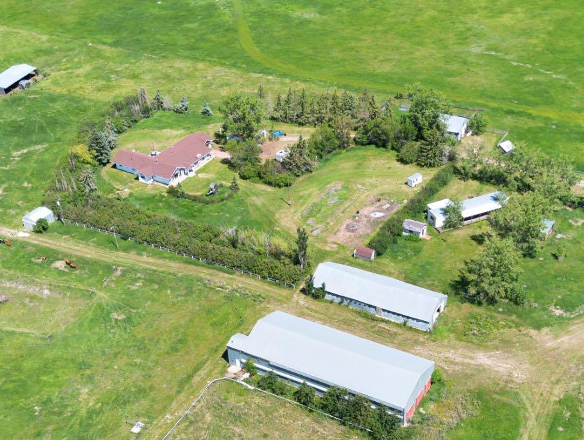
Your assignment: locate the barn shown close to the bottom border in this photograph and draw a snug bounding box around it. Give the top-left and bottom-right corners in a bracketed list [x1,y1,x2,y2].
[227,310,434,423]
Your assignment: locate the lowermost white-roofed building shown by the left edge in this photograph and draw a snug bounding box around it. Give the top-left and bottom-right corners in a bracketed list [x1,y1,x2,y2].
[21,207,54,231]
